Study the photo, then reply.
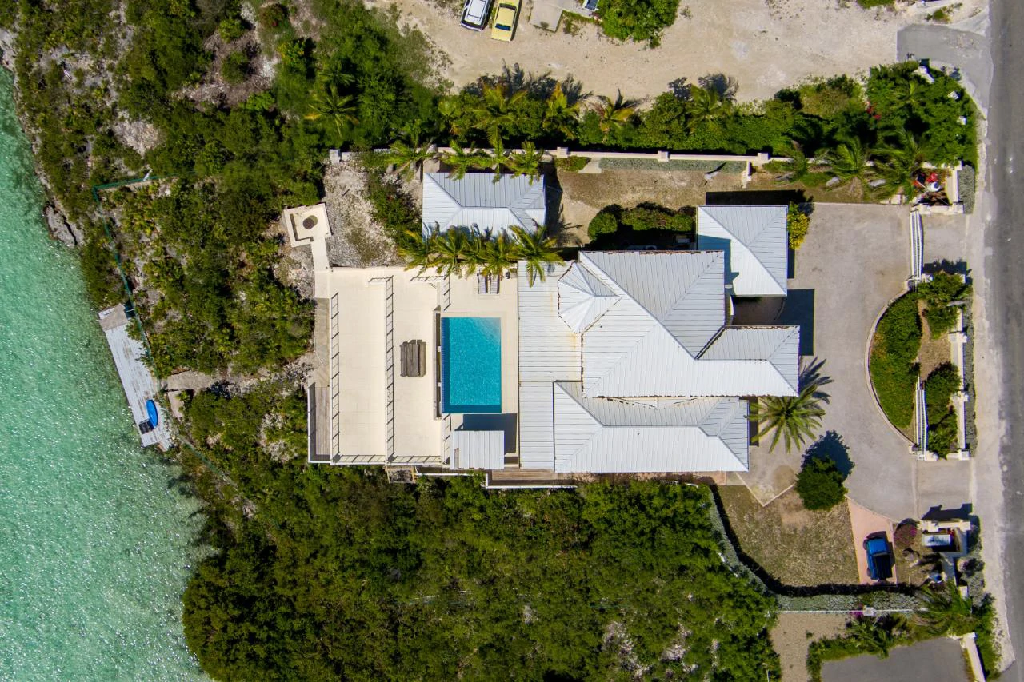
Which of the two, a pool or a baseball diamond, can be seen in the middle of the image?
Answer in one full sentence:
The feature located in the middle of the image is a pool.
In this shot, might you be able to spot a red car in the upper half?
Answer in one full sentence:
No, no red car is visible in the upper half.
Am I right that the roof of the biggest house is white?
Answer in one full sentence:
Yes, white is the color of the roof of the biggest house.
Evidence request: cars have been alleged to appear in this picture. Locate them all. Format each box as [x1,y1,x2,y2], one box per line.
[459,0,493,34]
[492,0,524,44]
[859,532,891,581]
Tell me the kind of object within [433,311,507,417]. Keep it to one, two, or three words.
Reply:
swimming pool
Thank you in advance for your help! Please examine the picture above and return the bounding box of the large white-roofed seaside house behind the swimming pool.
[518,249,801,473]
